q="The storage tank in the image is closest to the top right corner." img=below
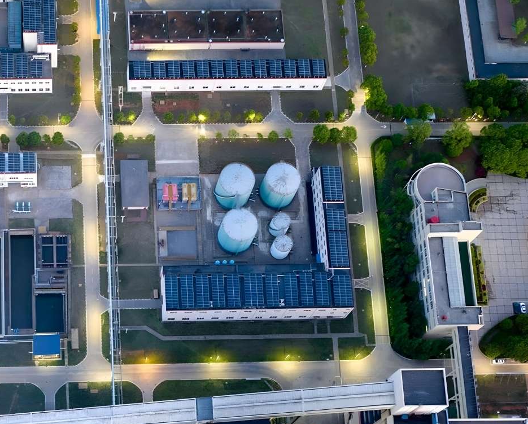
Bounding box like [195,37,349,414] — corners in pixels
[260,162,301,208]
